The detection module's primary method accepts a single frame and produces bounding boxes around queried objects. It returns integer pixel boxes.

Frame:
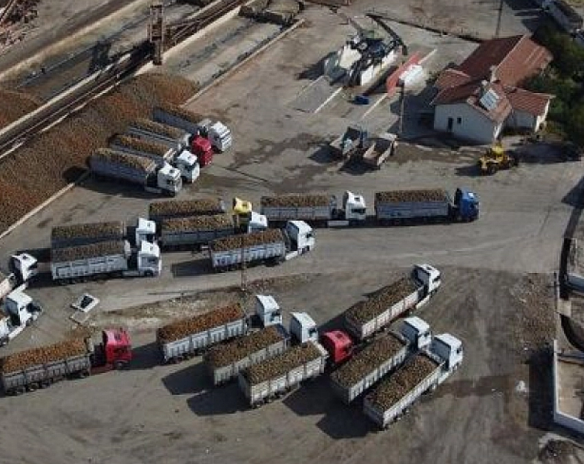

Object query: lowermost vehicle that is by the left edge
[1,326,131,393]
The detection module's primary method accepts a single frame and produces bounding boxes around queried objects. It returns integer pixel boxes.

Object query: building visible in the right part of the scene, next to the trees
[421,26,558,162]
